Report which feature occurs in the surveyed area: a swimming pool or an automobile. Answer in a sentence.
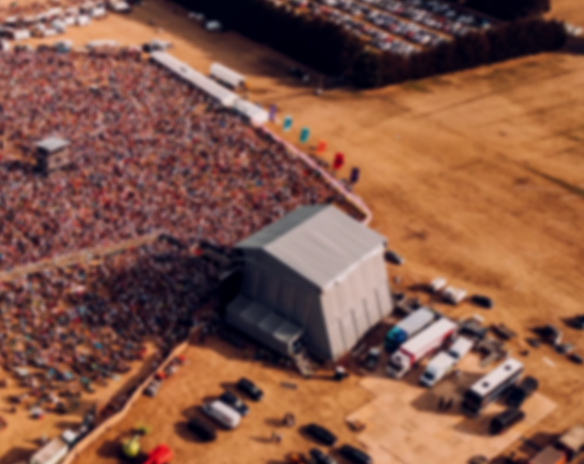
Looking from above, you can make out an automobile.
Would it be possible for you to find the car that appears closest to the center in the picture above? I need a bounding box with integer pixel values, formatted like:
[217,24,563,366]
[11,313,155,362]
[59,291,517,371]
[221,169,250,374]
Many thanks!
[388,249,405,267]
